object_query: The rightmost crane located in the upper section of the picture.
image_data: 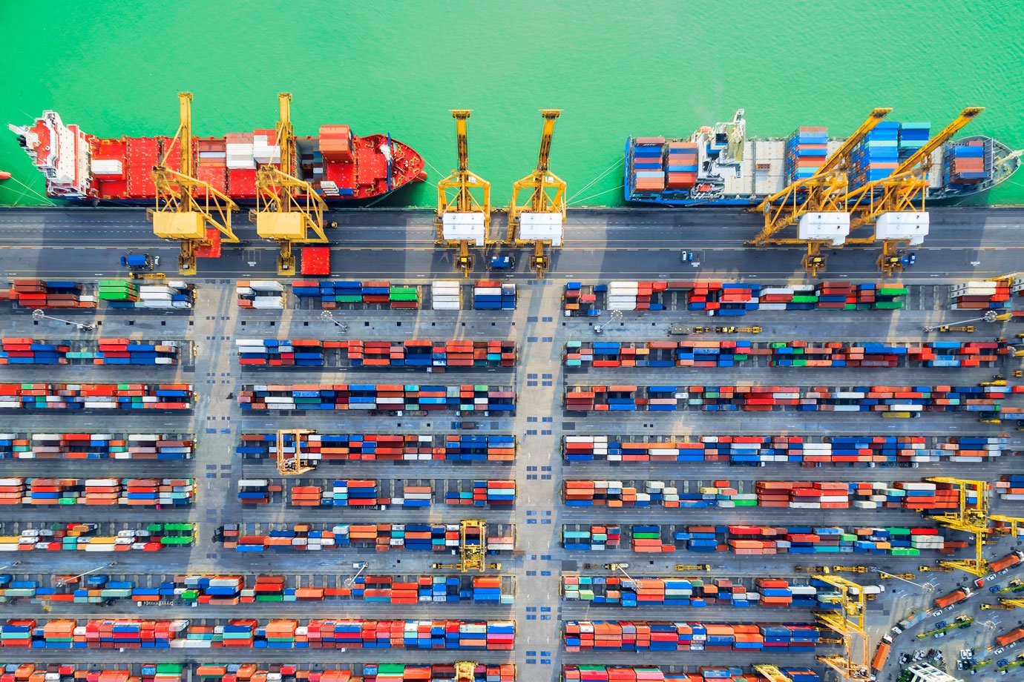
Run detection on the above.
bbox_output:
[826,108,984,288]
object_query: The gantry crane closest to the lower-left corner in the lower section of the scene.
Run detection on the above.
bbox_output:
[276,425,318,477]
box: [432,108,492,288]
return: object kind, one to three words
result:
container crane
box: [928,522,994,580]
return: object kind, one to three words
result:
container crane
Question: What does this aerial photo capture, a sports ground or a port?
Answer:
port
